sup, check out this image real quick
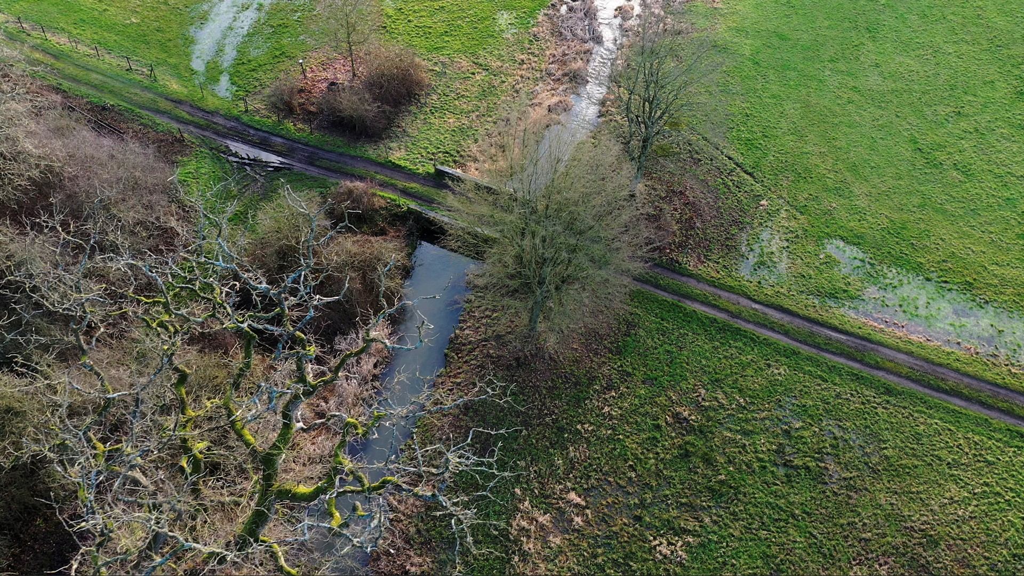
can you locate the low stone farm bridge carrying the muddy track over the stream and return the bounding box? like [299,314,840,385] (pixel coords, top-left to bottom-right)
[407,165,548,259]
